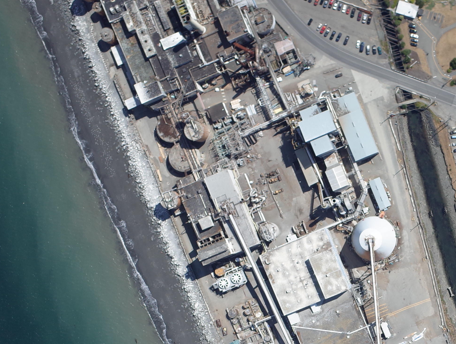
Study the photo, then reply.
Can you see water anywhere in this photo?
Yes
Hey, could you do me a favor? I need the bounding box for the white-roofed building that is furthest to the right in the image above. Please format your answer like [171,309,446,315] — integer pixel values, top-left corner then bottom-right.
[395,0,424,19]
